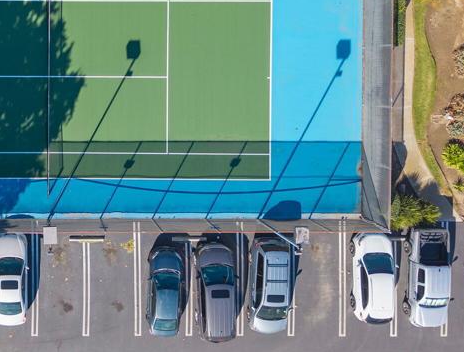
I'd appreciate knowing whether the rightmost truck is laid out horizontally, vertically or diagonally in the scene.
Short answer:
vertically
